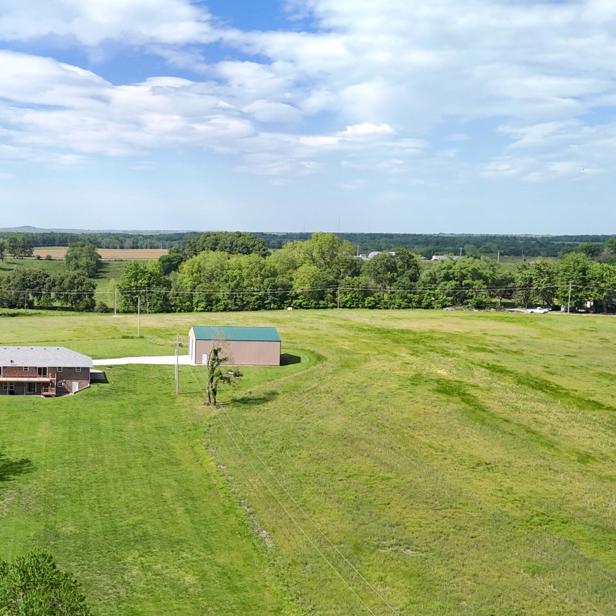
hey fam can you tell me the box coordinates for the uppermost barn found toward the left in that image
[189,325,280,365]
